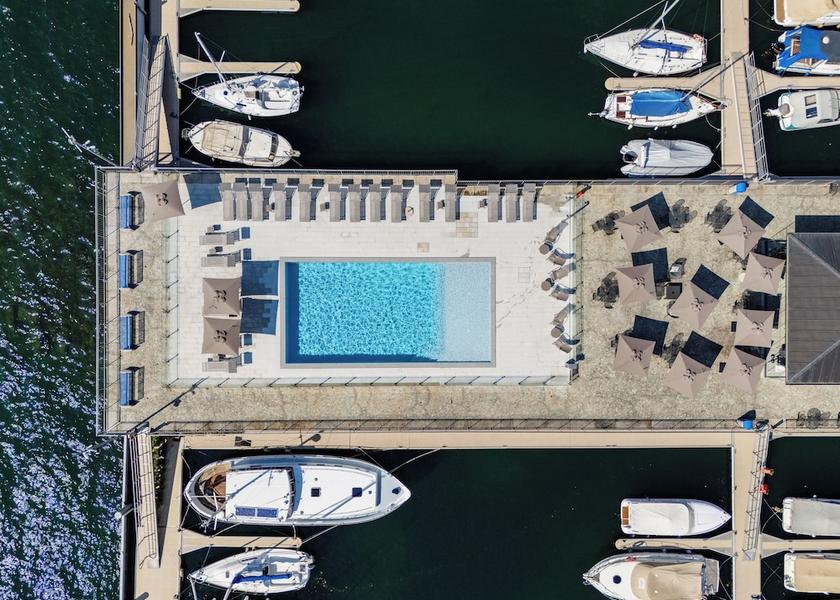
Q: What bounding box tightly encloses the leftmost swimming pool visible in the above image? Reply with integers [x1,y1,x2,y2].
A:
[280,257,495,368]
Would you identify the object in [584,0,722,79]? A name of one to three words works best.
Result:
boat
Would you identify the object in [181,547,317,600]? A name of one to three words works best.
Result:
boat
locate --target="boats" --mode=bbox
[611,137,722,176]
[584,0,722,79]
[755,88,840,132]
[587,51,755,132]
[180,447,437,539]
[751,28,840,78]
[617,492,735,537]
[582,547,735,600]
[748,0,840,30]
[760,491,840,537]
[179,121,303,170]
[178,31,305,152]
[181,547,317,600]
[762,549,840,600]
